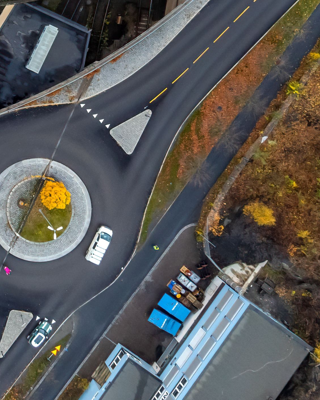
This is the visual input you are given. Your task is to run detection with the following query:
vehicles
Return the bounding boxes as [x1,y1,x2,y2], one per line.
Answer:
[87,226,114,266]
[30,321,53,350]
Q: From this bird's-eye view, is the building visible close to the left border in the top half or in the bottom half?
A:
top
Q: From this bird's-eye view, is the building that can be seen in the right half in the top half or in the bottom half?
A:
bottom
